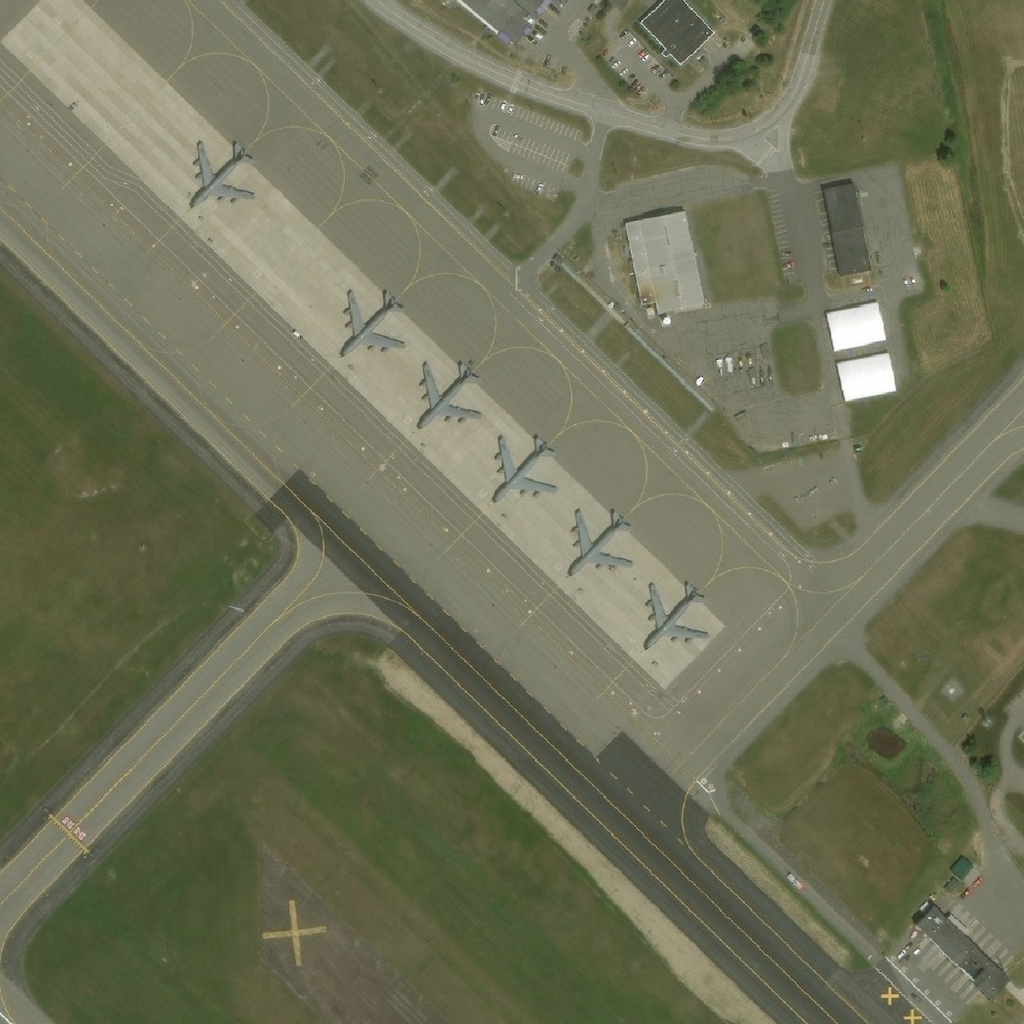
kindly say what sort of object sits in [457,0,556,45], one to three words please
building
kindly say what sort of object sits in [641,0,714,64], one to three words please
building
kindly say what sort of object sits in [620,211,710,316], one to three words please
hangar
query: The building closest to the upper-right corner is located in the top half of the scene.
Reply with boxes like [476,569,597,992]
[823,182,872,276]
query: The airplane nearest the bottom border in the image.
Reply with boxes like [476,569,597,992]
[646,583,711,649]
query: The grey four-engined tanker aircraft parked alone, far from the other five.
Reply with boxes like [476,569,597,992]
[191,141,256,206]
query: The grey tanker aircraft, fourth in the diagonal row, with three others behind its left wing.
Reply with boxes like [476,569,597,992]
[493,436,558,501]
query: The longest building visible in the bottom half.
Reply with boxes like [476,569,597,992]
[916,903,1010,1002]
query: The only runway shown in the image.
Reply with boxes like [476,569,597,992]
[260,843,454,1024]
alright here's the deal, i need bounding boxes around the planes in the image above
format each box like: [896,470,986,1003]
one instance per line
[418,362,483,428]
[646,583,711,649]
[493,436,558,501]
[342,291,406,356]
[569,510,634,575]
[191,141,256,206]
